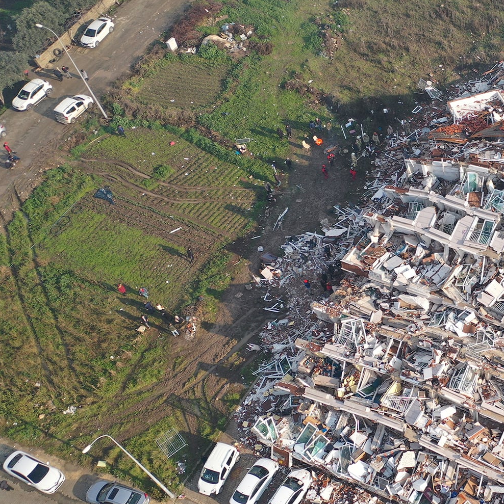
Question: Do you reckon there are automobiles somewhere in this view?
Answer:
Yes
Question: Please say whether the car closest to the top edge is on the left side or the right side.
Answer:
left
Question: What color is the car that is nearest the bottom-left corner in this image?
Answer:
white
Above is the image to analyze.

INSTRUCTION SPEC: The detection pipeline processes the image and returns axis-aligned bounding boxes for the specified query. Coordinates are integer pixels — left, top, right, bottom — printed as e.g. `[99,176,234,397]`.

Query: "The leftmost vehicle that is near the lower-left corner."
[5,454,64,496]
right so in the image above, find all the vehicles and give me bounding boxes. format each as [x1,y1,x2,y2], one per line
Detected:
[5,454,64,496]
[10,80,56,113]
[196,442,242,503]
[77,19,115,50]
[271,471,313,504]
[88,483,151,504]
[229,460,279,504]
[54,98,97,127]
